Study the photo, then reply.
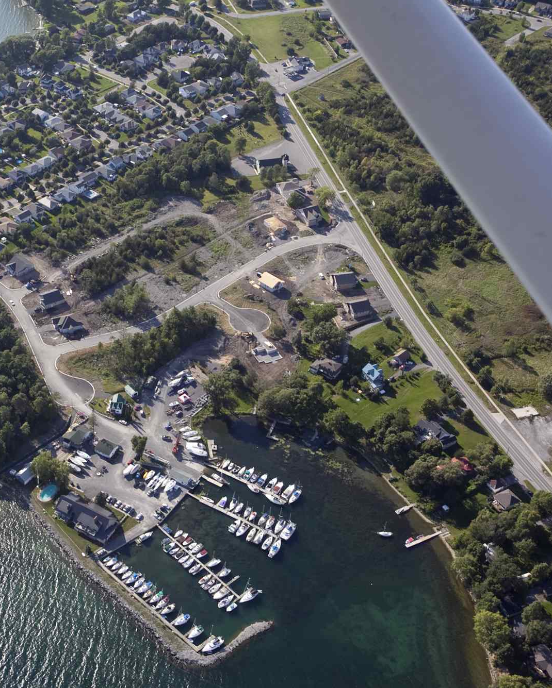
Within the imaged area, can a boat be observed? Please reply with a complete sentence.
Yes, there's a boat here.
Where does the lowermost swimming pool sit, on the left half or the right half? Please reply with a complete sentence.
The lowermost swimming pool appears in the left half of the scene.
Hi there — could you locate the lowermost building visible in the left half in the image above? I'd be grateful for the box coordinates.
[45,493,127,551]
